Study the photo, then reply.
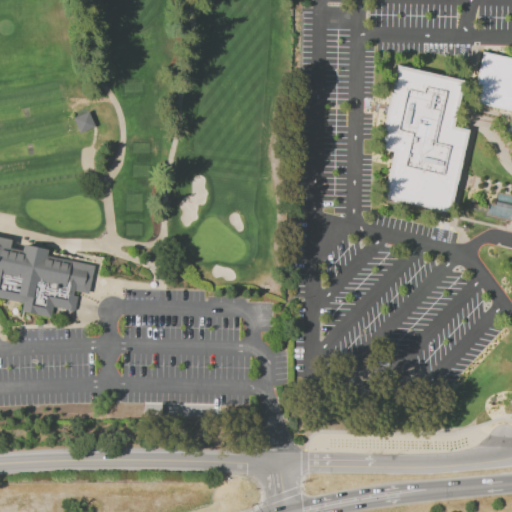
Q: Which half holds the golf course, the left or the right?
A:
left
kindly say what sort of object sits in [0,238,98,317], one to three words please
building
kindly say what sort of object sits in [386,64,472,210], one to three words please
building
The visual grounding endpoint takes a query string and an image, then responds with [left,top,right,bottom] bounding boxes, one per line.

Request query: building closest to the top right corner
[479,51,512,110]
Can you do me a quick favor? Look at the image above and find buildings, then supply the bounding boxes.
[75,112,96,132]
[479,51,512,110]
[0,238,98,317]
[386,64,472,210]
[488,194,512,220]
